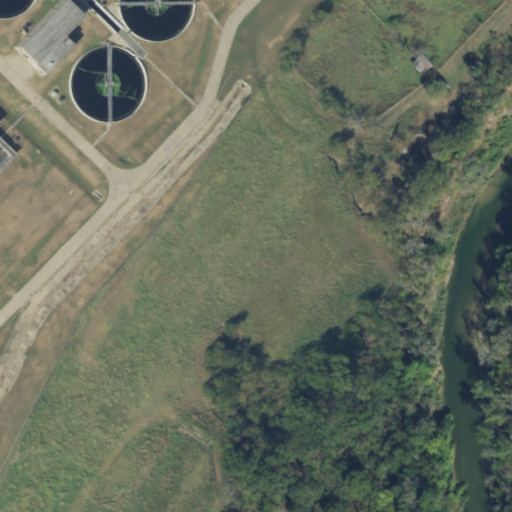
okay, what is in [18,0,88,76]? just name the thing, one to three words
building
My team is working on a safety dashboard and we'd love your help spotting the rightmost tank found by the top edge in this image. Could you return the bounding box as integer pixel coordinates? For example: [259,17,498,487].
[116,0,198,43]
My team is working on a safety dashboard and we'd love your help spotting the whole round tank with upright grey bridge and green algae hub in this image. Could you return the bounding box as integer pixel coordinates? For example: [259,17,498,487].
[68,42,148,125]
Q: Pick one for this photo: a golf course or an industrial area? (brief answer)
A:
industrial area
